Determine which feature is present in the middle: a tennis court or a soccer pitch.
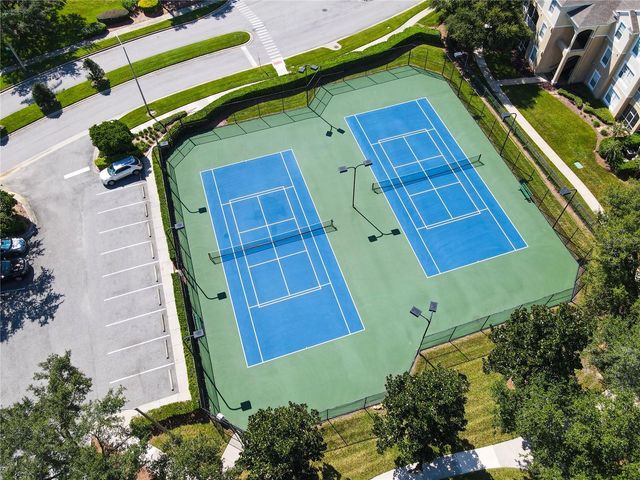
tennis court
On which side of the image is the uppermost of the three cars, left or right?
left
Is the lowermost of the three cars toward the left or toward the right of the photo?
left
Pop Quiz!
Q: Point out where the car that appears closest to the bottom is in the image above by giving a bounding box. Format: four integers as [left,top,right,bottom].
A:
[0,261,25,284]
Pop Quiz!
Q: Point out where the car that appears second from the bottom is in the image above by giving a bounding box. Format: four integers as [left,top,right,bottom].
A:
[0,236,26,259]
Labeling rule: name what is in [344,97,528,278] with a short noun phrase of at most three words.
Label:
tennis court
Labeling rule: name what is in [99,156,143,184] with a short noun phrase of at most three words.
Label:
car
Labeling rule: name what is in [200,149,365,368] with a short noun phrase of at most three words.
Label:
tennis court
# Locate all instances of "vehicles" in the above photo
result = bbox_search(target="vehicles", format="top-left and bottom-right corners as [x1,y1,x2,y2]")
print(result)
[0,261,25,284]
[99,156,143,184]
[0,236,26,259]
